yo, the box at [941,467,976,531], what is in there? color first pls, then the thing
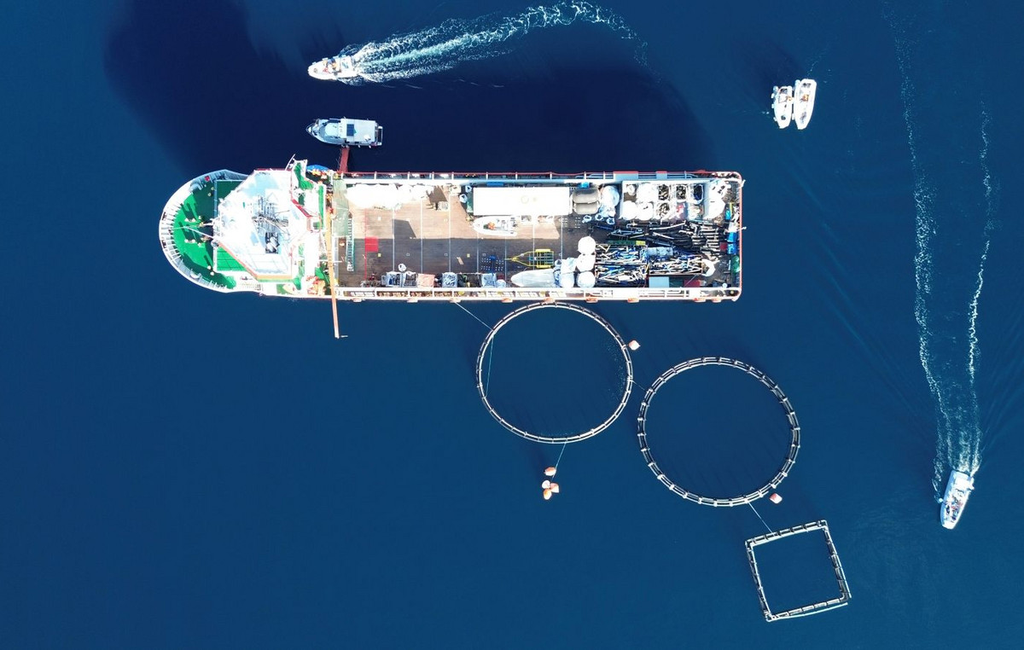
white boat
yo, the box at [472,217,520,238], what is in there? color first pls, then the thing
white boat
